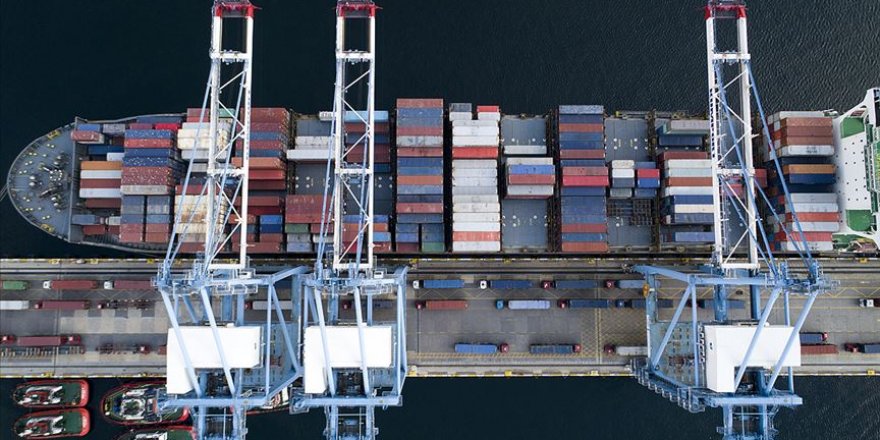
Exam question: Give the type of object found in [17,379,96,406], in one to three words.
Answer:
boat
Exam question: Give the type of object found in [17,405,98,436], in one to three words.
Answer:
boat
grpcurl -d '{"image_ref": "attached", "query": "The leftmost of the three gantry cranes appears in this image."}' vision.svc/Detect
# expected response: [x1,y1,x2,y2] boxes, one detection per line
[144,0,315,440]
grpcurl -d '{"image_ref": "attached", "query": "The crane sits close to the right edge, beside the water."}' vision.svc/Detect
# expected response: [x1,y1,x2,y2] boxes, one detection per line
[624,0,840,440]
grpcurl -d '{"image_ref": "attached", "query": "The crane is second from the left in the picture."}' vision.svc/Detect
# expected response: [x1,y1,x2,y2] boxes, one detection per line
[284,0,423,440]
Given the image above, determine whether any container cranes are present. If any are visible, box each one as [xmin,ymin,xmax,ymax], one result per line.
[144,0,315,440]
[624,0,840,440]
[284,0,423,440]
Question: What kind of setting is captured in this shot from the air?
port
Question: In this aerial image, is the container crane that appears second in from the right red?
No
